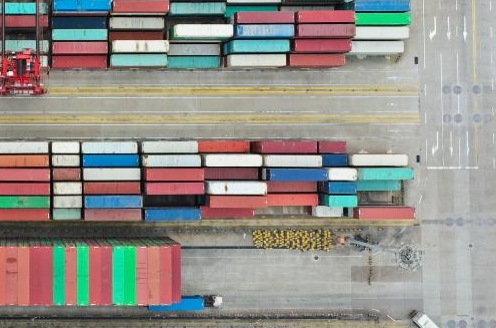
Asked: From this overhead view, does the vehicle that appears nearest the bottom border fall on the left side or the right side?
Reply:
right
